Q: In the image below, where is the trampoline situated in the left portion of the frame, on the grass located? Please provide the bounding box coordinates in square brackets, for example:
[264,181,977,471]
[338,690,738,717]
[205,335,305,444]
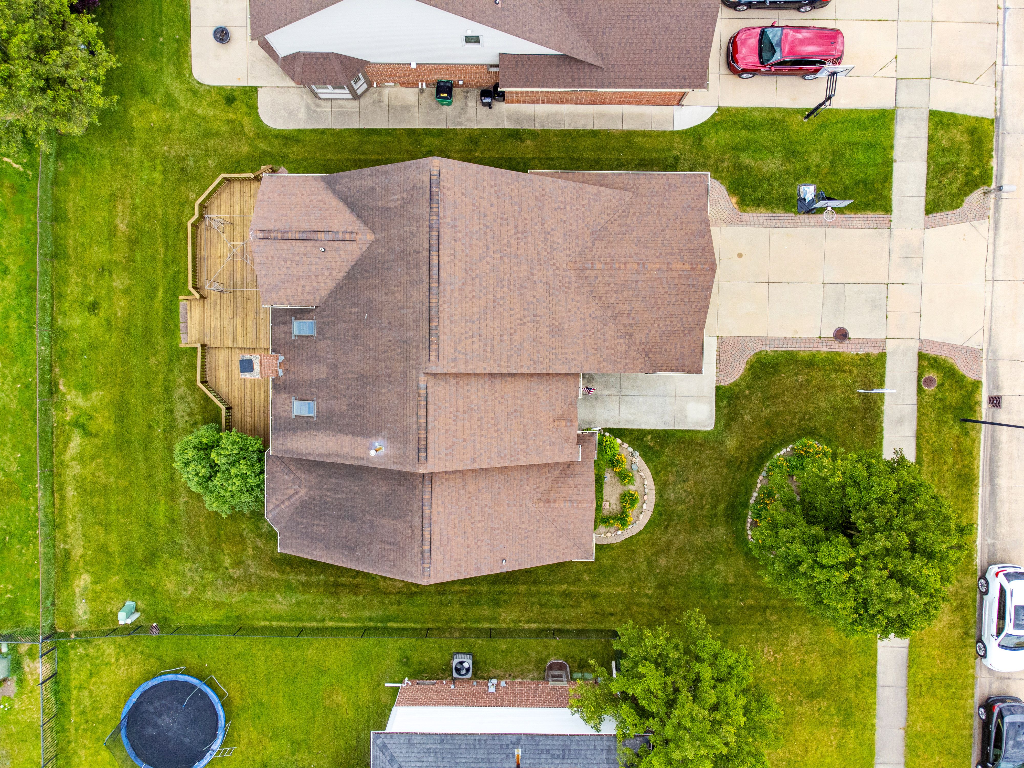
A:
[103,667,236,768]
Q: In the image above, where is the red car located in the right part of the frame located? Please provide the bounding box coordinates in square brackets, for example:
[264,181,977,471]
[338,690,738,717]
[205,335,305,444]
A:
[727,11,851,74]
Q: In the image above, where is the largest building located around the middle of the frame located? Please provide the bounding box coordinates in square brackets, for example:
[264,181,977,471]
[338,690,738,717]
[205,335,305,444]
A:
[238,157,717,584]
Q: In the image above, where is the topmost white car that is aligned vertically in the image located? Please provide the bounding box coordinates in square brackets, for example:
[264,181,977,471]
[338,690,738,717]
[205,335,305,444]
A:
[969,557,1024,668]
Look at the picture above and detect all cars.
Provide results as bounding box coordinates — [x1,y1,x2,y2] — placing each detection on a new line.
[969,557,1024,668]
[724,0,838,12]
[969,685,1024,768]
[727,11,851,74]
